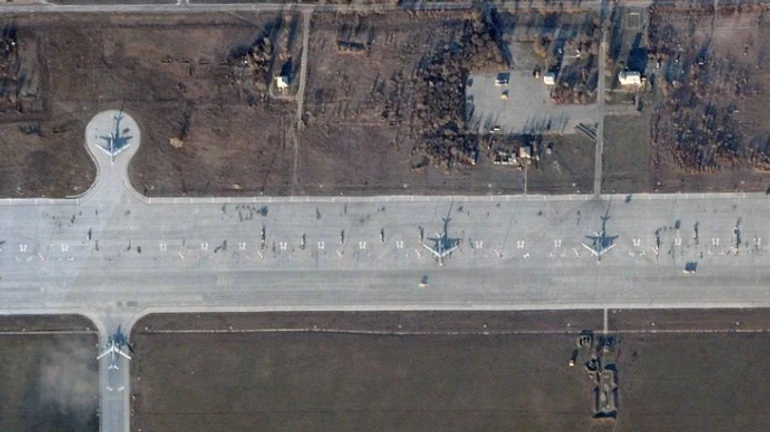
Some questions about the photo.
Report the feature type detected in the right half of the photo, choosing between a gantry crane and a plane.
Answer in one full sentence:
What appears in the right half of the photo is a plane.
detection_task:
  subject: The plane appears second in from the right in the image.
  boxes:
[422,233,457,266]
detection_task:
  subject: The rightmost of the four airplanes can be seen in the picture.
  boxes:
[581,230,616,264]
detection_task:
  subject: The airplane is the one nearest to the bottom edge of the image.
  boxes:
[95,340,130,372]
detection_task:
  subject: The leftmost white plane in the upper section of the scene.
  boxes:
[95,134,129,165]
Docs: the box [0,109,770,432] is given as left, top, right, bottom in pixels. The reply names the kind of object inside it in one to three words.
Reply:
airport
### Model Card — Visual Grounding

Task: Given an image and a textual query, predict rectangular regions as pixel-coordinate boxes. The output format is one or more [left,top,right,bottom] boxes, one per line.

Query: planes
[95,340,130,372]
[95,134,129,165]
[581,230,616,264]
[422,233,457,266]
